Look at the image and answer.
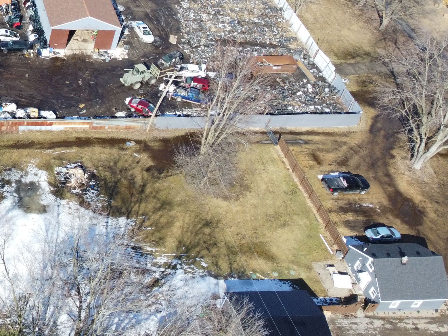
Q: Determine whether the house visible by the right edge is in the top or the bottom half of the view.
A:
bottom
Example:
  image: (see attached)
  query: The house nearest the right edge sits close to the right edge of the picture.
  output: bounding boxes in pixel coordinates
[342,243,448,312]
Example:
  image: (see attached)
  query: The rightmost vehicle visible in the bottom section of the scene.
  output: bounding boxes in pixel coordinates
[355,224,409,243]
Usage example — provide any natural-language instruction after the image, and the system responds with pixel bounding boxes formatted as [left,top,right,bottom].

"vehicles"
[168,87,214,110]
[355,224,409,243]
[0,39,34,54]
[157,48,188,69]
[172,63,210,78]
[120,94,161,116]
[177,75,219,92]
[117,57,173,89]
[0,28,21,42]
[134,20,155,43]
[317,172,374,197]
